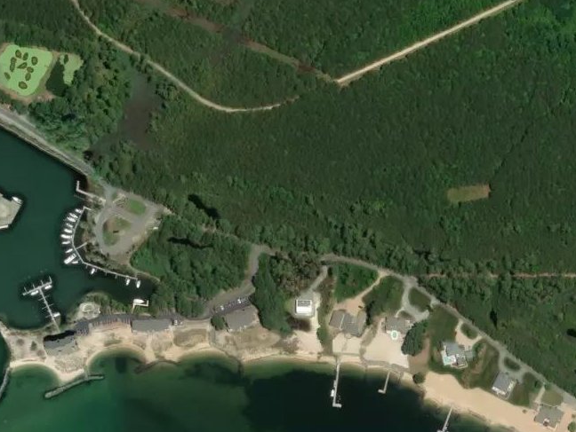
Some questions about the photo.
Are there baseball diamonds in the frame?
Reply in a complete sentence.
No, I can't see a single baseball diamond in this photo.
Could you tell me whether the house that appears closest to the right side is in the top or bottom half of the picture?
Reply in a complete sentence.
The bottom half of the photo is where the house that appears closest to the right side is.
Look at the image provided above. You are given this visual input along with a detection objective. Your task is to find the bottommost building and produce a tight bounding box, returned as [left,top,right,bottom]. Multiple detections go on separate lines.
[533,404,564,431]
